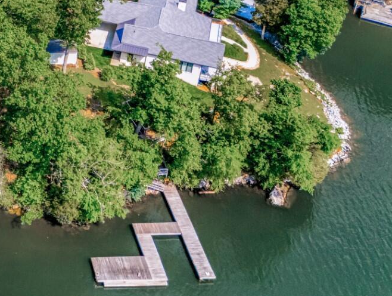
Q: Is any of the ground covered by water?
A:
Yes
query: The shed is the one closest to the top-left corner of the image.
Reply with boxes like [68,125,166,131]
[49,40,79,64]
